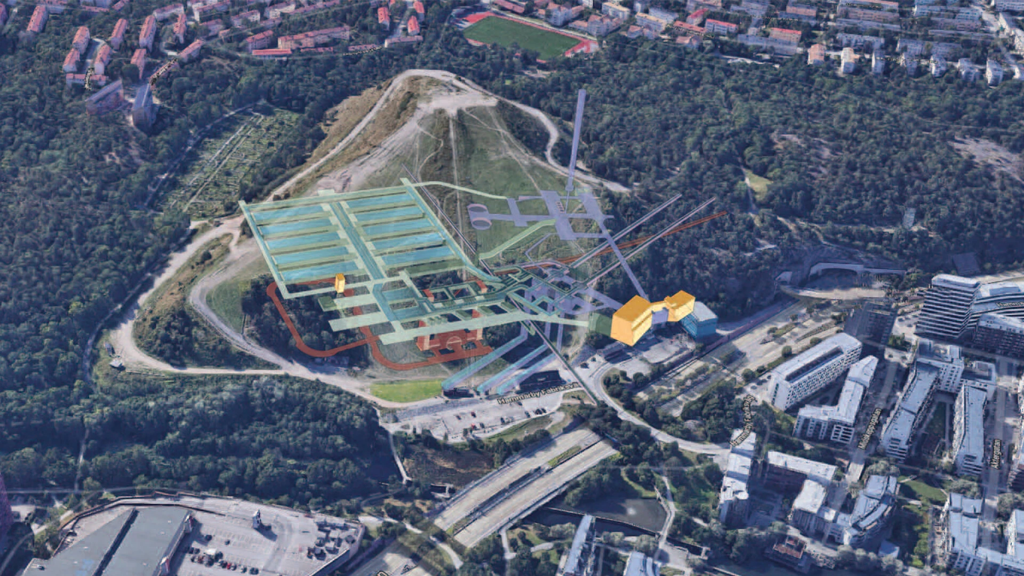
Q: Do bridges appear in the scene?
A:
Yes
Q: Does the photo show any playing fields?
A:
Yes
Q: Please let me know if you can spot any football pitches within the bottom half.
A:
No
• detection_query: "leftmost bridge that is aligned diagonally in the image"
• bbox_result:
[431,425,620,550]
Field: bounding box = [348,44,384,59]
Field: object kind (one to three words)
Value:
house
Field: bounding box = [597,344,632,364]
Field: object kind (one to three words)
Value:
shed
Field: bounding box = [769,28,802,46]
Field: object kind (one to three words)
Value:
house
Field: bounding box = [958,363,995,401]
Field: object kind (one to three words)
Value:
building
